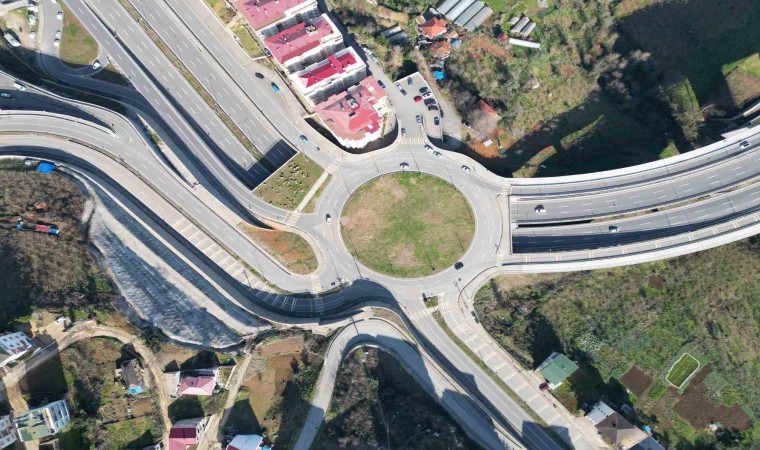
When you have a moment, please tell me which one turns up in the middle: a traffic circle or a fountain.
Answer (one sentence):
Visible in the middle is a traffic circle.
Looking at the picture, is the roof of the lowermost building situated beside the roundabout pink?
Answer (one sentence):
Yes, the roof of the lowermost building situated beside the roundabout is pink.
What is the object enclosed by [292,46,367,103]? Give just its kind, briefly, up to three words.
building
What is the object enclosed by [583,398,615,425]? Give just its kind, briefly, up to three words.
shed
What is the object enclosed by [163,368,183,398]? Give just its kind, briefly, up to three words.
building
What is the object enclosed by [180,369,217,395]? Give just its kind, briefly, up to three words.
house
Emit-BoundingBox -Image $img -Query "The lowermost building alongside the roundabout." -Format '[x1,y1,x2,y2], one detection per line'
[315,76,393,148]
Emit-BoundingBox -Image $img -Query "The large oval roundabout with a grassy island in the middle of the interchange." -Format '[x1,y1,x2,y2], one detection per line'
[283,137,506,321]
